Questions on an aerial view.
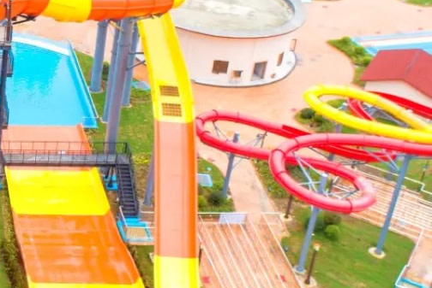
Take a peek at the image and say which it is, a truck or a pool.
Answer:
pool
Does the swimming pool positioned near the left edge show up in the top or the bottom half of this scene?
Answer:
top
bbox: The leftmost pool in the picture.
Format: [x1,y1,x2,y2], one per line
[2,40,95,130]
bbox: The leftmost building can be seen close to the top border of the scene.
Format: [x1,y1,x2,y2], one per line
[180,0,313,89]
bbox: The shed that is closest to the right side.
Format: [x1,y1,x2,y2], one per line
[367,39,432,119]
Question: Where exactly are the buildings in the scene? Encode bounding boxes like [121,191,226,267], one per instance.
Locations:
[367,39,432,119]
[180,0,313,89]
